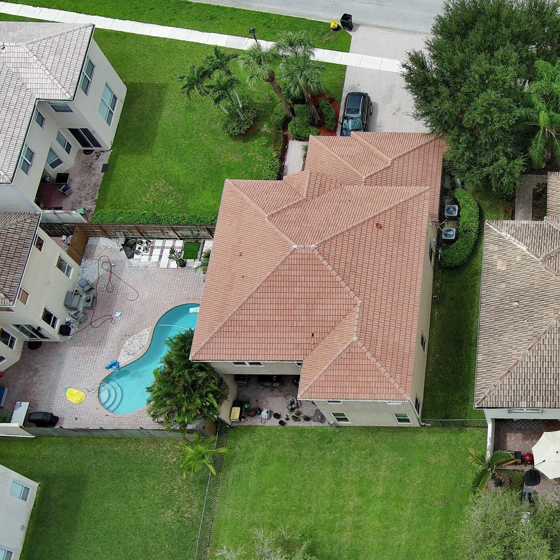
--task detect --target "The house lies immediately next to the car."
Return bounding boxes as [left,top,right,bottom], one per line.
[189,131,445,428]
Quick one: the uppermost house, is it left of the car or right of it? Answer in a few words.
to its left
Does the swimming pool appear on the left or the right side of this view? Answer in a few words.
left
